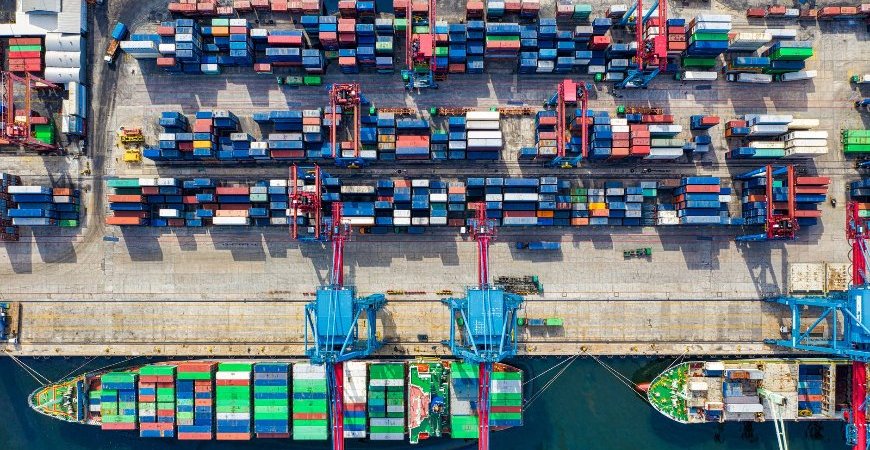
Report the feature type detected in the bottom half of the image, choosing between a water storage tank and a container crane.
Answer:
container crane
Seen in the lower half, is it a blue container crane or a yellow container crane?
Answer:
blue container crane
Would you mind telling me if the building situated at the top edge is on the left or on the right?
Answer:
left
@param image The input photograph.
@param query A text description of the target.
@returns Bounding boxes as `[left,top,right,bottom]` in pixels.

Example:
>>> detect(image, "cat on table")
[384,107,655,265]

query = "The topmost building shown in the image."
[0,0,87,87]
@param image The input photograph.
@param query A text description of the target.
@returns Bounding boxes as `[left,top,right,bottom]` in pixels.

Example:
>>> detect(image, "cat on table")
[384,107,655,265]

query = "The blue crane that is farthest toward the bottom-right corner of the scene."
[768,202,870,450]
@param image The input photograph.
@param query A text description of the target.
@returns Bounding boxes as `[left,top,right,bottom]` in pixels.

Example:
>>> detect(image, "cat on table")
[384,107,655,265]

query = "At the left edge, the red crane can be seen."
[2,66,71,152]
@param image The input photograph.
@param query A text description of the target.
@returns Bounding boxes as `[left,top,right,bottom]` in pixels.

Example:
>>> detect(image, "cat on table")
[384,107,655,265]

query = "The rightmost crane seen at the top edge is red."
[616,0,669,87]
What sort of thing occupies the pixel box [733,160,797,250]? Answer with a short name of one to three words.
crane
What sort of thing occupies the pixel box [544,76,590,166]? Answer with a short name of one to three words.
crane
